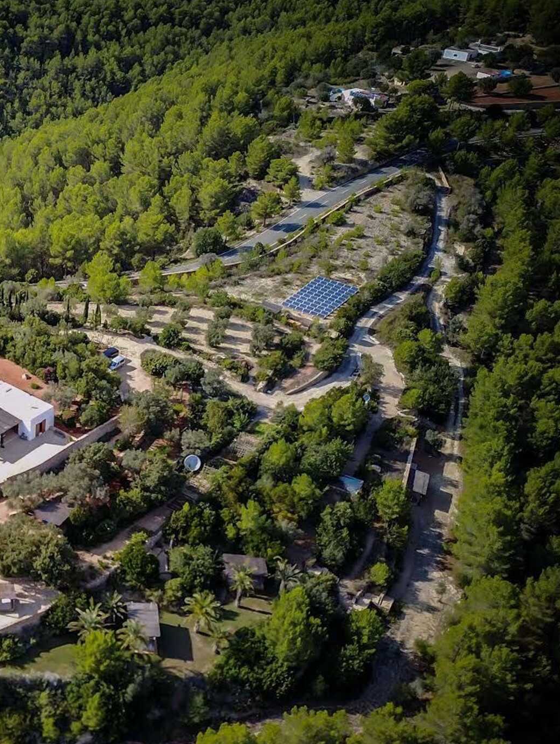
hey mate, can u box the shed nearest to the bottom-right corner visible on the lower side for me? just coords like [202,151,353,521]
[411,471,430,504]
